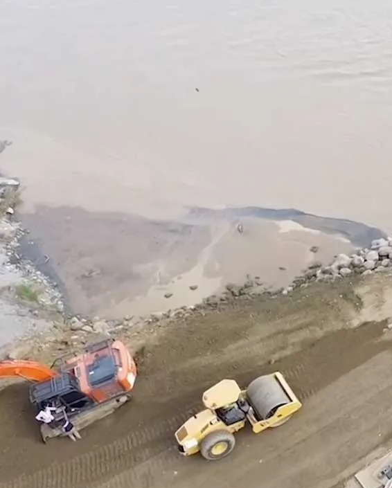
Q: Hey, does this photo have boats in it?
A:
No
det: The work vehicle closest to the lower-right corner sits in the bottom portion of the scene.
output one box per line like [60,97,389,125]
[173,365,302,462]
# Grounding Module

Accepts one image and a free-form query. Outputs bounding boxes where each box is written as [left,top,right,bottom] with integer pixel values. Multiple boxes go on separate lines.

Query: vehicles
[173,365,302,462]
[0,335,139,440]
